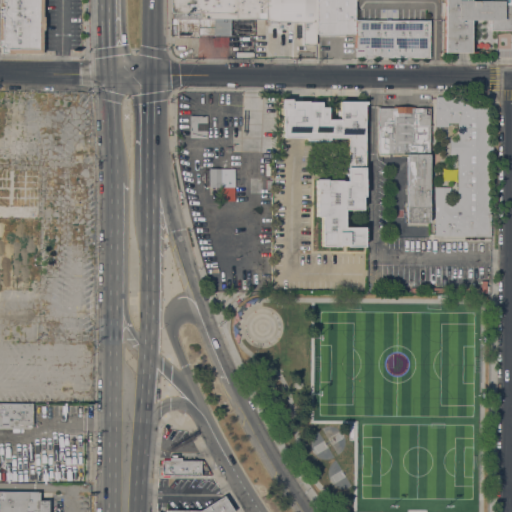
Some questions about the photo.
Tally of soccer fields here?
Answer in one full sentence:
The photo contains 2 soccer fields.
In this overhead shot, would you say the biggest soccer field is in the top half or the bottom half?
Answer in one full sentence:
The biggest soccer field is in the bottom half of the image.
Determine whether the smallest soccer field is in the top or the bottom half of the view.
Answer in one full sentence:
It is in the bottom half that the smallest soccer field appears.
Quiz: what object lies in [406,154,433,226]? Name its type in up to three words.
building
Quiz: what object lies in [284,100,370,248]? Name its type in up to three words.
building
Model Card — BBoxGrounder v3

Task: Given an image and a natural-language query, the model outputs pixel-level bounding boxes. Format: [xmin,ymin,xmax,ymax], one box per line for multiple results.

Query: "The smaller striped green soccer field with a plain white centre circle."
[362,425,474,500]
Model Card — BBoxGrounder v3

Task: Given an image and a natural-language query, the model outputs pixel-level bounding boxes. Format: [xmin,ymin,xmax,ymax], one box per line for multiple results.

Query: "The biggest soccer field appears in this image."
[321,312,474,416]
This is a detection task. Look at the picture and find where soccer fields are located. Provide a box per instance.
[362,425,474,500]
[321,312,474,416]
